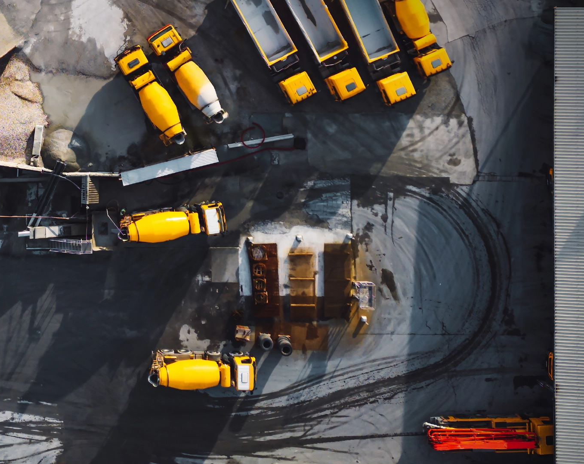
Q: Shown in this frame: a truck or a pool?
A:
truck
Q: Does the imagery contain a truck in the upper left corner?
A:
Yes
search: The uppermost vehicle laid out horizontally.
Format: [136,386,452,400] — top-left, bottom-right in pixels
[116,199,229,241]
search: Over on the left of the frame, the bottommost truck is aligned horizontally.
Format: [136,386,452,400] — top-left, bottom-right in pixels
[146,351,258,390]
